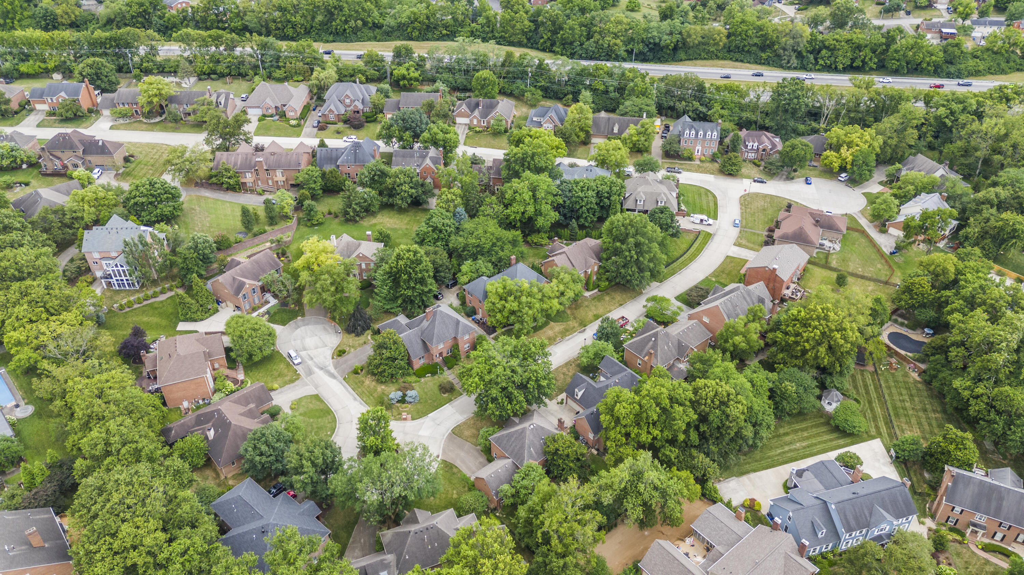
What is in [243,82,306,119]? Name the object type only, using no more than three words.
house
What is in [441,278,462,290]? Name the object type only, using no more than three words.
vehicle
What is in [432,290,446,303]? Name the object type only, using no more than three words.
vehicle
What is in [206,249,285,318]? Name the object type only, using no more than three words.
house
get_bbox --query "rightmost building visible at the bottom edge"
[931,466,1024,549]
